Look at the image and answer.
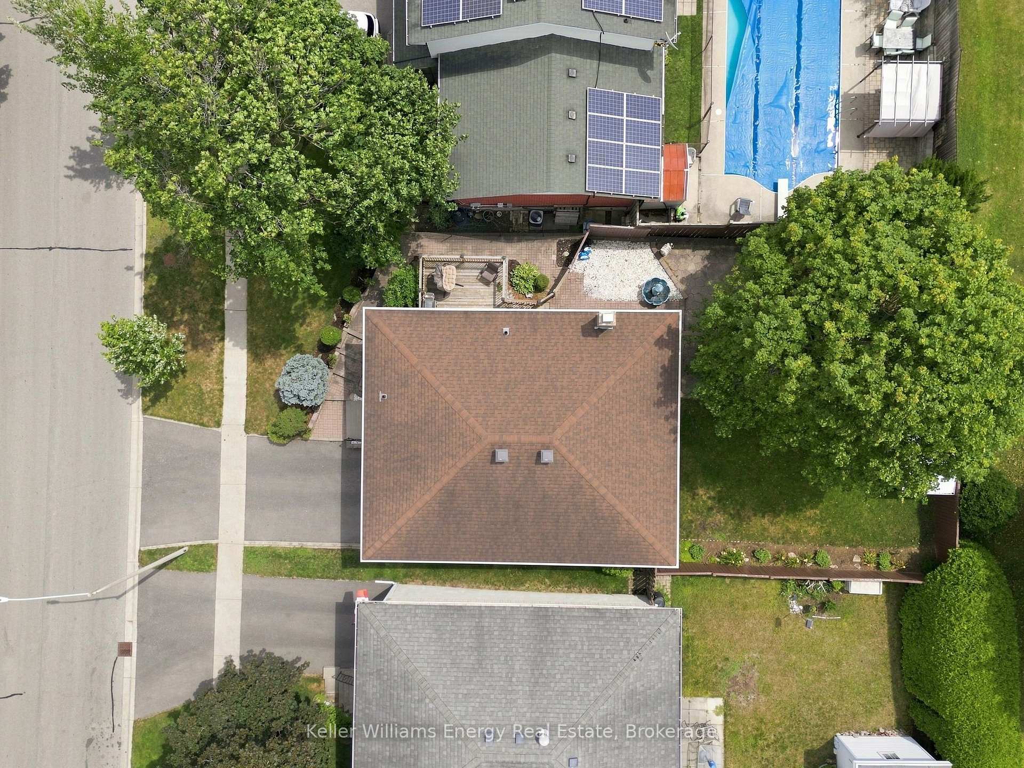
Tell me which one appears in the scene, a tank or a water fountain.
water fountain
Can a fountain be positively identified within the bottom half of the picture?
No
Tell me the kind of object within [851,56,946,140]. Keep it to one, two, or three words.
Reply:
gazebo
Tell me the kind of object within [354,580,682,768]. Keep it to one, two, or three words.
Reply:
house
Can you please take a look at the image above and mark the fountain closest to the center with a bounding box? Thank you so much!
[642,277,670,306]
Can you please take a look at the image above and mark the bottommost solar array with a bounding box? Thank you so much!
[586,88,661,200]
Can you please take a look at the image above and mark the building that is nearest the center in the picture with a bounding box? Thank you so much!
[360,307,682,567]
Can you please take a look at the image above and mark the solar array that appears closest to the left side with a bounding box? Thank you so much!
[421,0,503,27]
